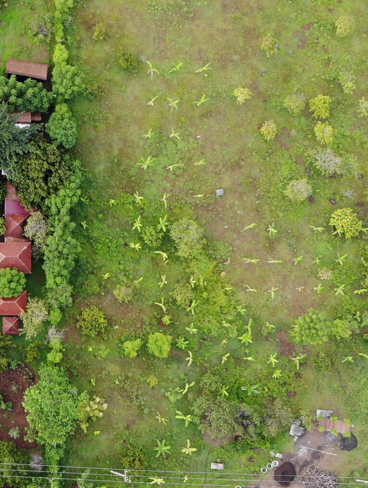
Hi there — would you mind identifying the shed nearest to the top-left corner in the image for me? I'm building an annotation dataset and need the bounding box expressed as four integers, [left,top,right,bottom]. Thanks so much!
[6,58,48,85]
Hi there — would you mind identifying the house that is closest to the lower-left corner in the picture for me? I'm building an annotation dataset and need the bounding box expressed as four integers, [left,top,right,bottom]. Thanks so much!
[2,315,21,335]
